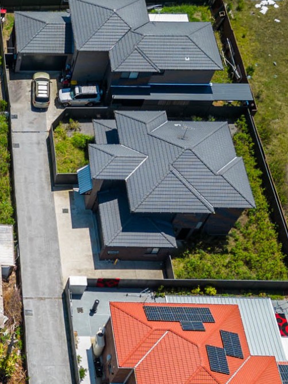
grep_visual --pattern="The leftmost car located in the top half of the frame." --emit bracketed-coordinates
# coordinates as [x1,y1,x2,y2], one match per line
[30,71,51,106]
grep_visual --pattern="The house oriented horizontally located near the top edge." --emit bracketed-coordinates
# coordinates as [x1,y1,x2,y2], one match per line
[13,0,226,102]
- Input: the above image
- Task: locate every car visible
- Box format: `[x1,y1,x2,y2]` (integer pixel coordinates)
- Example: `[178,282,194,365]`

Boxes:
[30,71,51,106]
[59,82,106,107]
